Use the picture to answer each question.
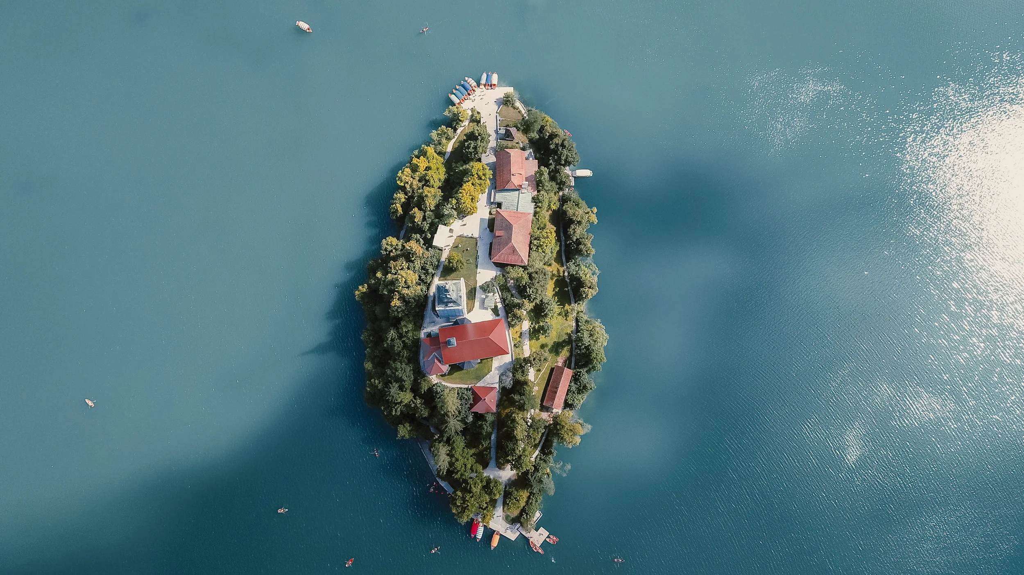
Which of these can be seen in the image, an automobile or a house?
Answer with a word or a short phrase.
house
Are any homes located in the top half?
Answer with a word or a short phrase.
Yes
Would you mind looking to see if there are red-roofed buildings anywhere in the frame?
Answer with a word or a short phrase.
Yes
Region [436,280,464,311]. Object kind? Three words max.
building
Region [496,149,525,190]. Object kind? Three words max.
house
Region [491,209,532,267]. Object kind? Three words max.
house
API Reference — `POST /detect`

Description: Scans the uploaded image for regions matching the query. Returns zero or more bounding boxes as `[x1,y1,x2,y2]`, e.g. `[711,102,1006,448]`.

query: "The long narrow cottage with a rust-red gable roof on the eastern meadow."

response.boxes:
[544,366,573,410]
